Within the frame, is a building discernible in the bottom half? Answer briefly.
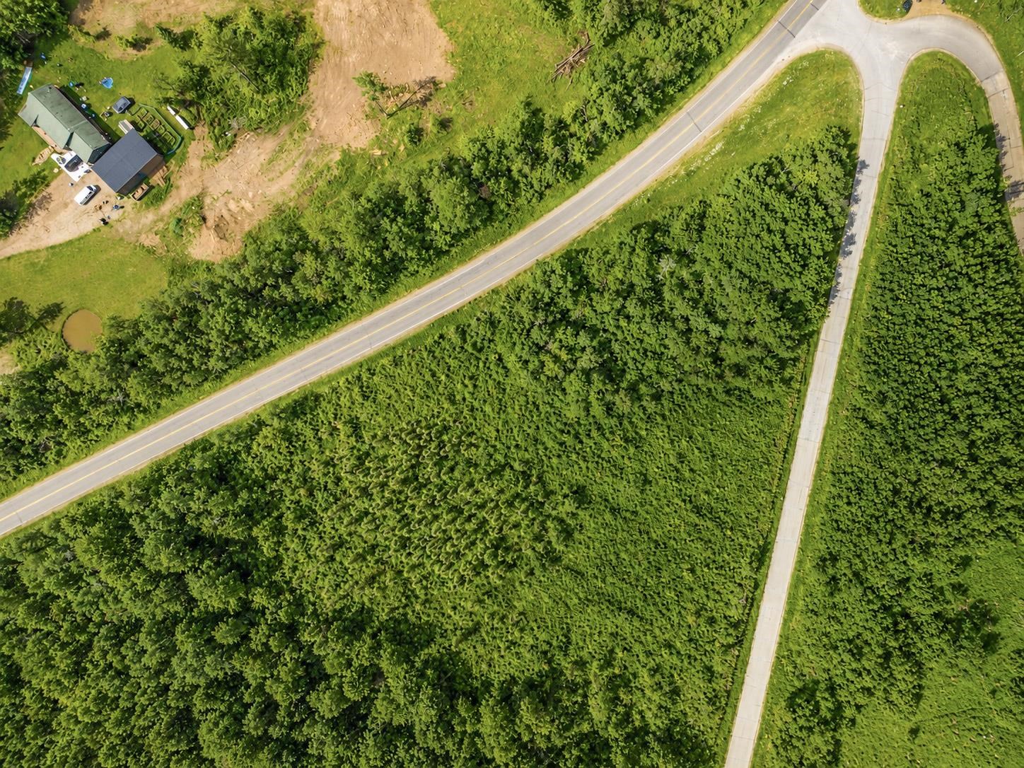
No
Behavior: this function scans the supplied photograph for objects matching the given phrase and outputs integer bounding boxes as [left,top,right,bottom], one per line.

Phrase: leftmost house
[19,85,114,165]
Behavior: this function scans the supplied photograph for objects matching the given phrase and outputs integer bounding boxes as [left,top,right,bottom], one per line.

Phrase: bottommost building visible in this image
[91,128,163,194]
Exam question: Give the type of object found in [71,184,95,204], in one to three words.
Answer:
vehicle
